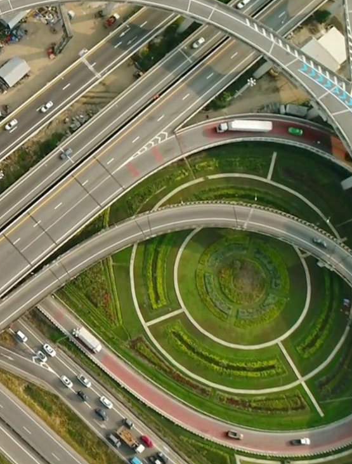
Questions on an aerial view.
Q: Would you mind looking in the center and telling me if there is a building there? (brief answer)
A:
No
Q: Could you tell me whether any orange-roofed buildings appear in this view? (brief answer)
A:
No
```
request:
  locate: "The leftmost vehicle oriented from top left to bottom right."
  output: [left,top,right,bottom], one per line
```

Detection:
[13,328,29,344]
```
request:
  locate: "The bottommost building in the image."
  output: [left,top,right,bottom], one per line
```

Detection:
[0,57,30,90]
